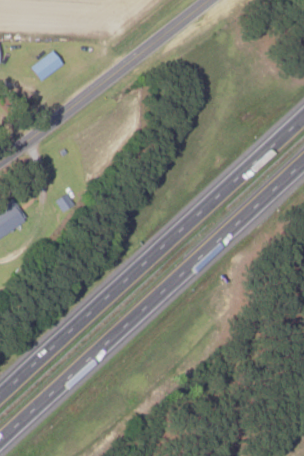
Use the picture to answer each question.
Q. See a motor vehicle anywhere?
Yes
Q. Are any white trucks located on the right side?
Yes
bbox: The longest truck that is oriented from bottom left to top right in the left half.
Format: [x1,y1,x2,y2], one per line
[66,348,107,387]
